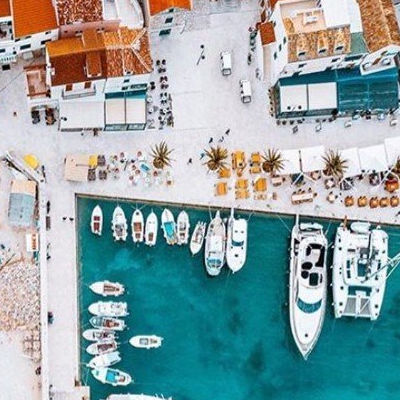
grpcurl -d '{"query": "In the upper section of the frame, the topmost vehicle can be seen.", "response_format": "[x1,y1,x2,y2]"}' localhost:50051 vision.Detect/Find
[218,50,232,79]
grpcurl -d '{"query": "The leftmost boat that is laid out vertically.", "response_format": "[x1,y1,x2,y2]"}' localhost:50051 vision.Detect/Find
[90,205,103,238]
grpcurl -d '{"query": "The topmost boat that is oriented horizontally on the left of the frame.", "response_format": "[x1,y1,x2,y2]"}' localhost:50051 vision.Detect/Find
[89,281,126,297]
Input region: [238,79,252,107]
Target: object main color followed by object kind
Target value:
white vehicle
